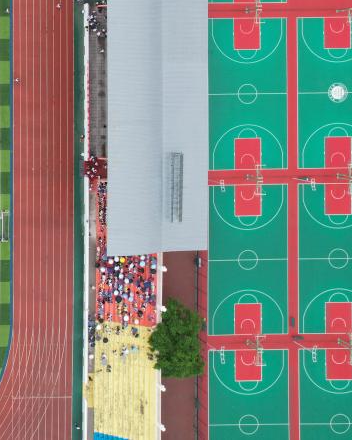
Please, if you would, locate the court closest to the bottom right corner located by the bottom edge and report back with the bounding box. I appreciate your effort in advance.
[298,349,352,440]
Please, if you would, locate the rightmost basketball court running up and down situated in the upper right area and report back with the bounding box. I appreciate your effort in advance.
[297,17,352,168]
